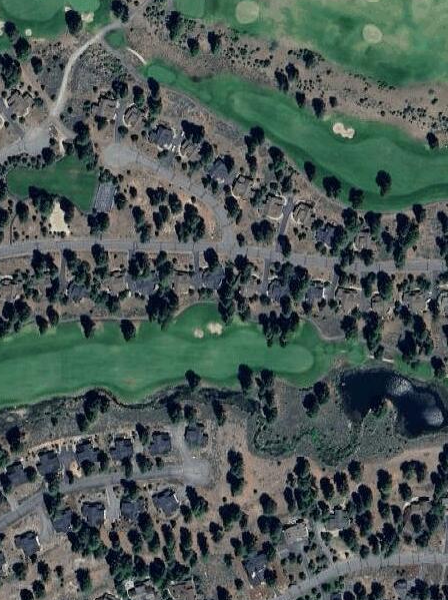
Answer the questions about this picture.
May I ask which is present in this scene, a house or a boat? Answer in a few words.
house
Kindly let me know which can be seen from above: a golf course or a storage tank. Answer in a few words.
golf course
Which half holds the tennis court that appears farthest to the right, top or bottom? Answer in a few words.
top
